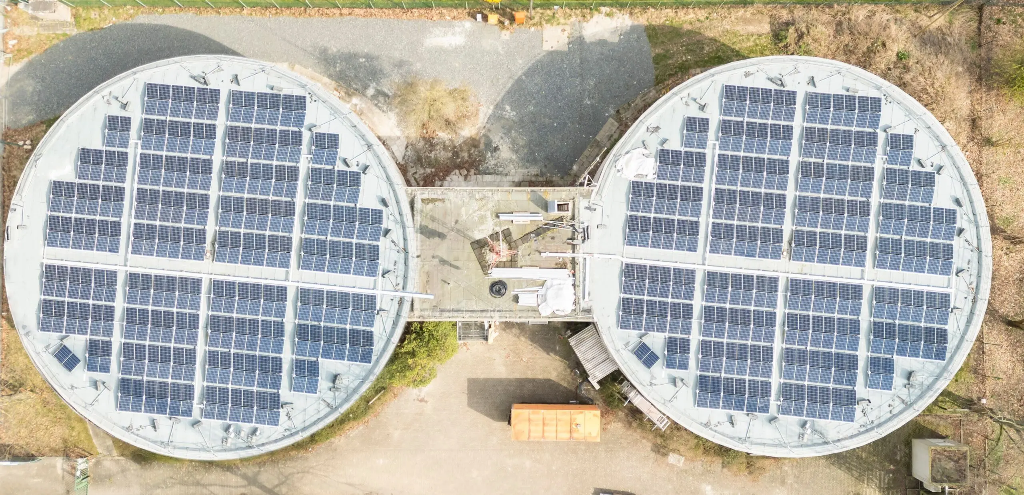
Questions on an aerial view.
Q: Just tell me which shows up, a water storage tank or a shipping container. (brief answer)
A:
shipping container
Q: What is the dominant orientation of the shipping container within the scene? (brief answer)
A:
horizontally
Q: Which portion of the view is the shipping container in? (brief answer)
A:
bottom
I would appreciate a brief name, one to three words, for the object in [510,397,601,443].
shipping container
